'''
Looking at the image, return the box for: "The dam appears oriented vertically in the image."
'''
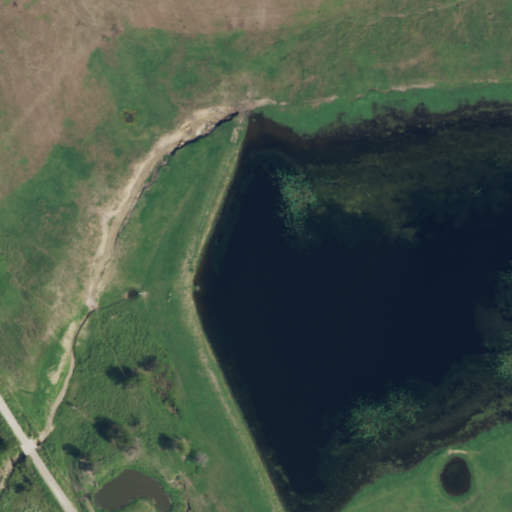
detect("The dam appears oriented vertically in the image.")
[148,112,290,512]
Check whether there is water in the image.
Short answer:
Yes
